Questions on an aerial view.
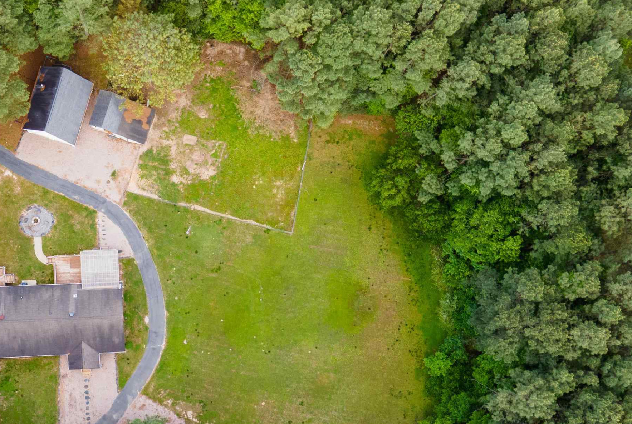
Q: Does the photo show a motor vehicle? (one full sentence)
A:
No, the photo shows no motor vehicle.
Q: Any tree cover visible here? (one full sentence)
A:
Yes, there is tree cover in the image.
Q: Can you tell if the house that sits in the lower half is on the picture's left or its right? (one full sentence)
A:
The house that sits in the lower half appears in the left half of the scene.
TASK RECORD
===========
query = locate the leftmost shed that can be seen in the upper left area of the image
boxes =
[20,66,94,149]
